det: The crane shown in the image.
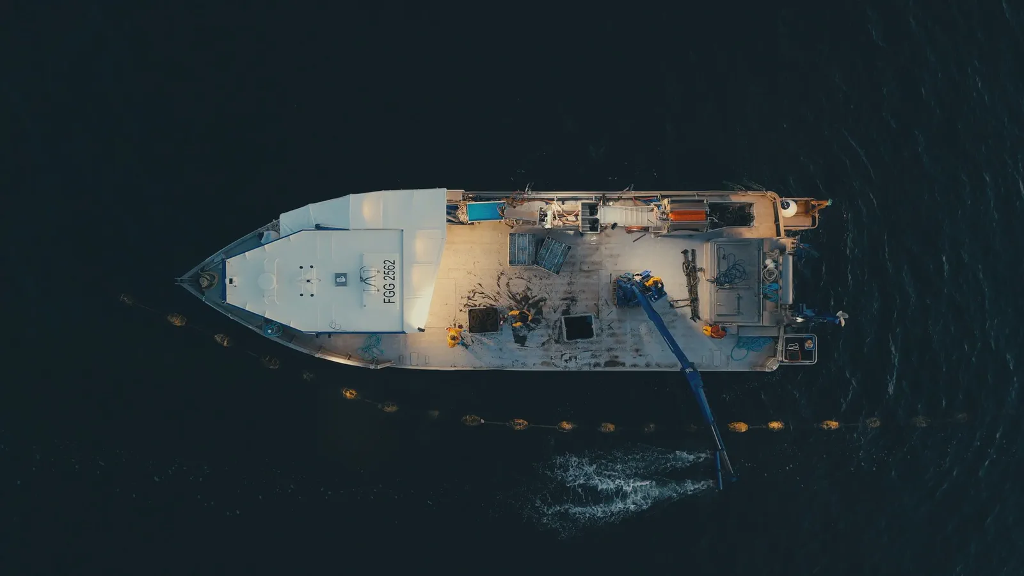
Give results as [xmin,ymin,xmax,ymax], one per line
[610,270,738,494]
